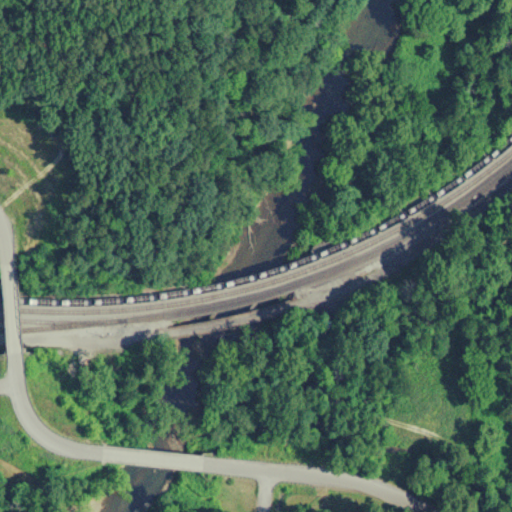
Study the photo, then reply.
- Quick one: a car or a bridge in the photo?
bridge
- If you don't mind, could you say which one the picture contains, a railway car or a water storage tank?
railway car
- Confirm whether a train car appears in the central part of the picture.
Yes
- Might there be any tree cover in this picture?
Yes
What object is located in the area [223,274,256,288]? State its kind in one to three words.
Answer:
rail car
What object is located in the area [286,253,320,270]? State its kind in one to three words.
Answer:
rail car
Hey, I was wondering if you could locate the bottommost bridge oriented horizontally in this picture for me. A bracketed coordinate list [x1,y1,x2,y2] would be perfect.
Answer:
[98,443,214,473]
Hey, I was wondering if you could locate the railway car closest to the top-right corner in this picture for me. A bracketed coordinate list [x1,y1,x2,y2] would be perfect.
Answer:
[489,136,512,160]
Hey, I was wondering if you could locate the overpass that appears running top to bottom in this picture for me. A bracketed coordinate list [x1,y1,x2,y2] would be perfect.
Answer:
[1,268,26,358]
